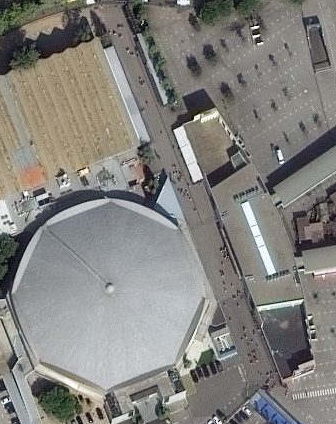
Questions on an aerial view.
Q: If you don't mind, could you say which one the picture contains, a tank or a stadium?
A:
stadium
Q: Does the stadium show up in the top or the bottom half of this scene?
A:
bottom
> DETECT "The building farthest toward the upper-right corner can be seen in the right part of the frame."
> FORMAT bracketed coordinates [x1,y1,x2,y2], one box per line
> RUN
[308,21,330,74]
